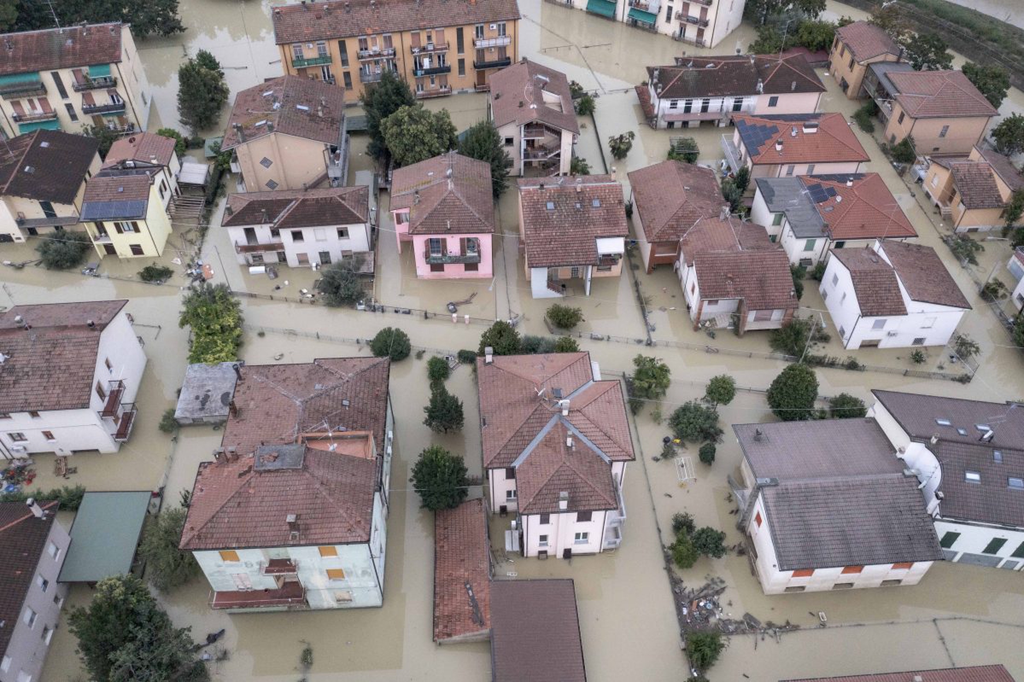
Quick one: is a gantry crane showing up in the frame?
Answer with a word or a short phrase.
No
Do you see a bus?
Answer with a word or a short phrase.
No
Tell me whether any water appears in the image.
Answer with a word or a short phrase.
Yes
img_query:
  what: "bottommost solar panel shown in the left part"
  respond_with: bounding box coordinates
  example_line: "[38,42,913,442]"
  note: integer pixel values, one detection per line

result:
[81,200,145,218]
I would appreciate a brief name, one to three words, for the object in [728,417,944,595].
barn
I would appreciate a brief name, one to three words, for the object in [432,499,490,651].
shed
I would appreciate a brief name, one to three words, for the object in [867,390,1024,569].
house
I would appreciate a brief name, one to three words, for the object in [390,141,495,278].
house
